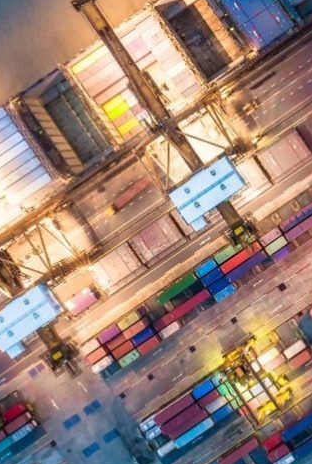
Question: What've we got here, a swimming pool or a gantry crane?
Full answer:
There is a gantry crane in the scene.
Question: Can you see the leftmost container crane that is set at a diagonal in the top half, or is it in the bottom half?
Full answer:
The top half of the photo is where the leftmost container crane that is set at a diagonal is.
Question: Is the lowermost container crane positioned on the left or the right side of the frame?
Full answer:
It is on the right.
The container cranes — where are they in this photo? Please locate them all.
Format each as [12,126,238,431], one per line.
[225,334,298,423]
[66,0,257,249]
[0,202,99,371]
